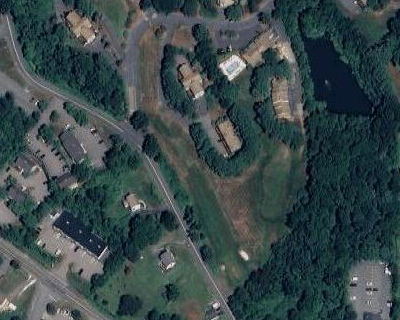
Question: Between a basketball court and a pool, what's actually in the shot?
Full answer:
Of the two, only a pool appears.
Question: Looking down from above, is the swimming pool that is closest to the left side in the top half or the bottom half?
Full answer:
The swimming pool that is closest to the left side sits in the top half of the picture.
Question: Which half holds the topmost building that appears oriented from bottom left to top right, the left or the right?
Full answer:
It is on the right.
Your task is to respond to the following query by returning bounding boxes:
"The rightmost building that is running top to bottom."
[270,75,292,119]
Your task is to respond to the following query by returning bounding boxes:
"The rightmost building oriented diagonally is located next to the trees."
[239,23,286,63]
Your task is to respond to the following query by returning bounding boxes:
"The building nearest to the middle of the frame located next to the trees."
[214,118,241,154]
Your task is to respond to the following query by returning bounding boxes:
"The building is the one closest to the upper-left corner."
[64,7,99,46]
